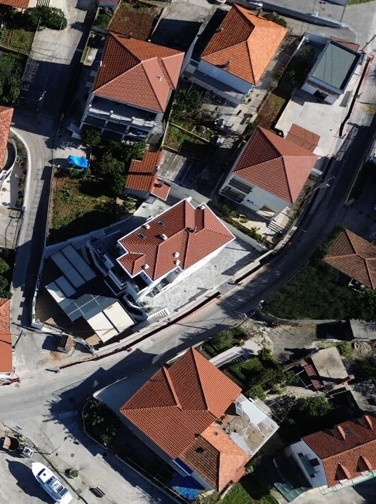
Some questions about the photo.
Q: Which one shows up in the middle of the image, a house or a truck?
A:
house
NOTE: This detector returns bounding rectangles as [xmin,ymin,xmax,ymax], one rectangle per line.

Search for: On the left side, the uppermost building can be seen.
[80,30,185,144]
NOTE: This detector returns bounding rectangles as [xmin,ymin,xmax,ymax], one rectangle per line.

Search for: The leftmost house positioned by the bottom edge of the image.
[113,346,281,494]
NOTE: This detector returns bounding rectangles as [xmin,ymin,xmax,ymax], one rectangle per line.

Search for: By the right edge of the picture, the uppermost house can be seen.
[296,39,364,110]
